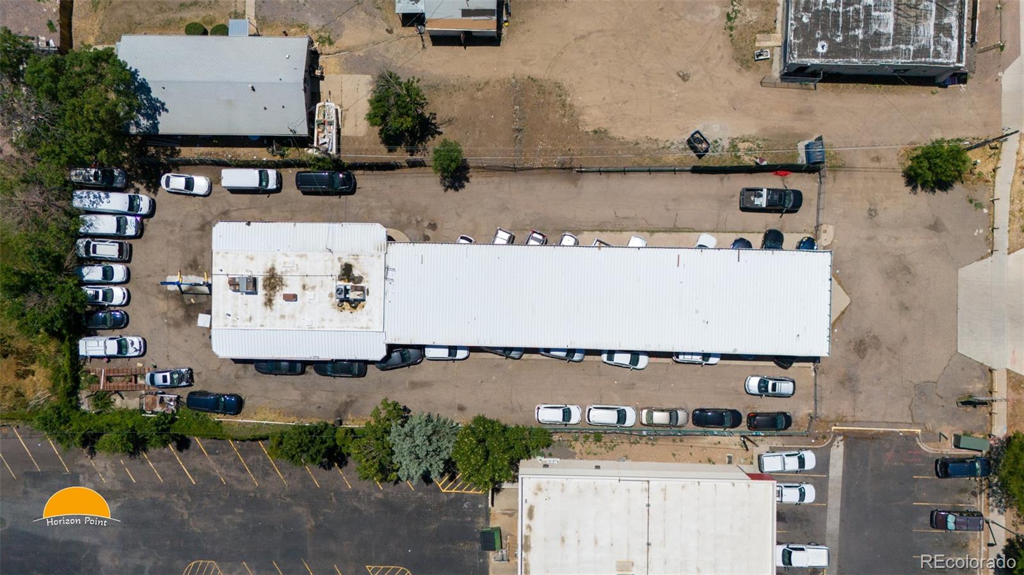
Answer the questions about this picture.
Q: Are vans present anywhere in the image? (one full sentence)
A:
Yes, the photo shows a van.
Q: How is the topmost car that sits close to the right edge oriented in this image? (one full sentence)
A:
Seen from above, the topmost car that sits close to the right edge lies from side to side.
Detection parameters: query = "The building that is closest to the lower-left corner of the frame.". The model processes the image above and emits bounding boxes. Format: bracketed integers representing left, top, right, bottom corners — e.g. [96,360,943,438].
[211,221,387,362]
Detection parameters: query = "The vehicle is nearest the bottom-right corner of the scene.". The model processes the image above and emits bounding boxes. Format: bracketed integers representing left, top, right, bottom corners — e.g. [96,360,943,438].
[927,508,986,532]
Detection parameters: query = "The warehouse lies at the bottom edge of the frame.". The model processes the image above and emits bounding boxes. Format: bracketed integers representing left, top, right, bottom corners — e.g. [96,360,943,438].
[519,461,776,575]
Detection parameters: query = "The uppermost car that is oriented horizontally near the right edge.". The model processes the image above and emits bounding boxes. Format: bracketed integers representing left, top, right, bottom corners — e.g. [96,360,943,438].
[932,455,990,480]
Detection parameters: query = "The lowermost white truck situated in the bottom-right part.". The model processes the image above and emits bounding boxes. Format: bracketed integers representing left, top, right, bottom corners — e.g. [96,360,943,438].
[776,542,830,568]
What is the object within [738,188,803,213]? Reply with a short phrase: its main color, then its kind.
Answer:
black truck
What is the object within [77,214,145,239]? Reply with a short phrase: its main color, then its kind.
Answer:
white vehicle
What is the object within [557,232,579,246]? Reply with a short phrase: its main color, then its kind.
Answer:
white car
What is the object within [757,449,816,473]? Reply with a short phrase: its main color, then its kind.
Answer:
white truck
